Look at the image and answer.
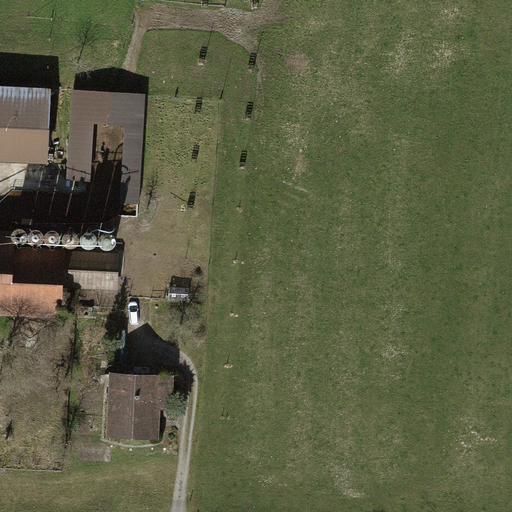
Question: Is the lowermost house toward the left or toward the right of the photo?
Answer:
left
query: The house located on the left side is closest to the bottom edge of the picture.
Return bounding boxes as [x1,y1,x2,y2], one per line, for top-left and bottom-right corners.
[103,367,175,442]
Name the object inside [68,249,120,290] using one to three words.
shed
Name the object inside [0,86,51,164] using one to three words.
barn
